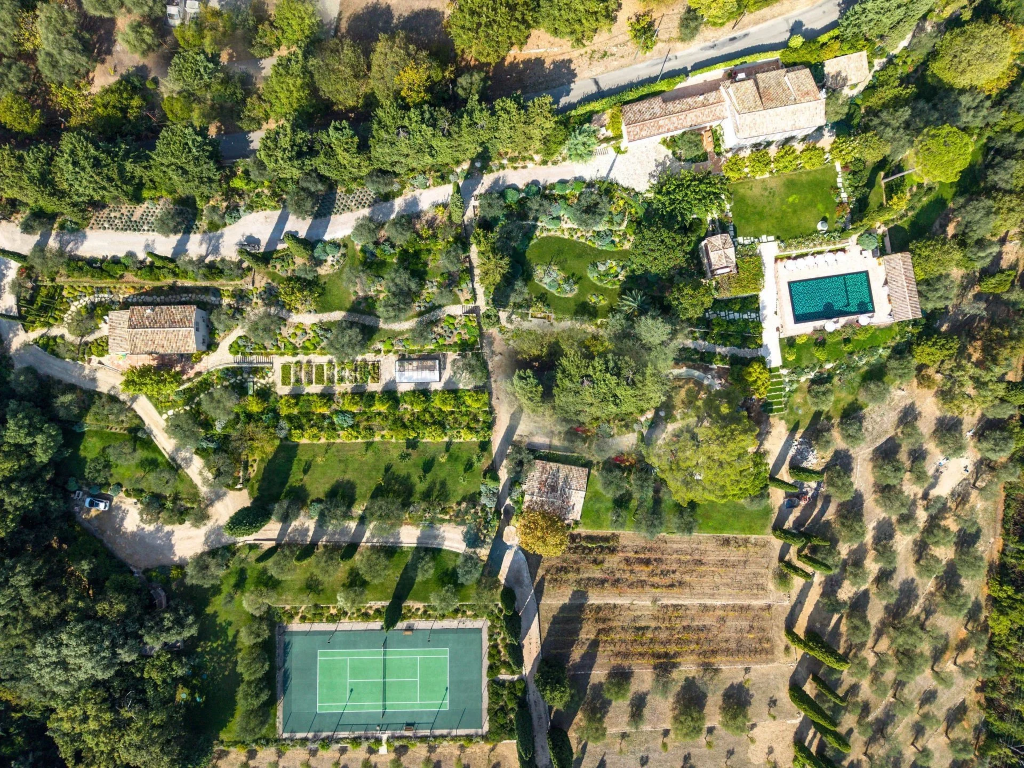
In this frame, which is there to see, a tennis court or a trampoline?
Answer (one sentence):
The one in the frame is a tennis court.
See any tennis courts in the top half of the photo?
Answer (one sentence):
No, the scene shows no tennis court in the top half of the photo.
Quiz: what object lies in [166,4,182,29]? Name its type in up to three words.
car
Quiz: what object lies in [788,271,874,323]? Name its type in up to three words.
swimming pool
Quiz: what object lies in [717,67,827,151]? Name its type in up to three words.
house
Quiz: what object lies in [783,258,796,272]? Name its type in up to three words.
umbrella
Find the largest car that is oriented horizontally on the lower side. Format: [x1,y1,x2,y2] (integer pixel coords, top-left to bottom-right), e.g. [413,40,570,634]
[86,497,111,510]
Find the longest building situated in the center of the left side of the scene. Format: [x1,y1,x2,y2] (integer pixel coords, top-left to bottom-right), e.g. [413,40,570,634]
[111,305,207,355]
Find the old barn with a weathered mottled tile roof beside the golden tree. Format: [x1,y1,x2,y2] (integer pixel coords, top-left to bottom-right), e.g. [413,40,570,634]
[523,458,590,522]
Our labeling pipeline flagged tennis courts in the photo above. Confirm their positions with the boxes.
[274,619,491,744]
